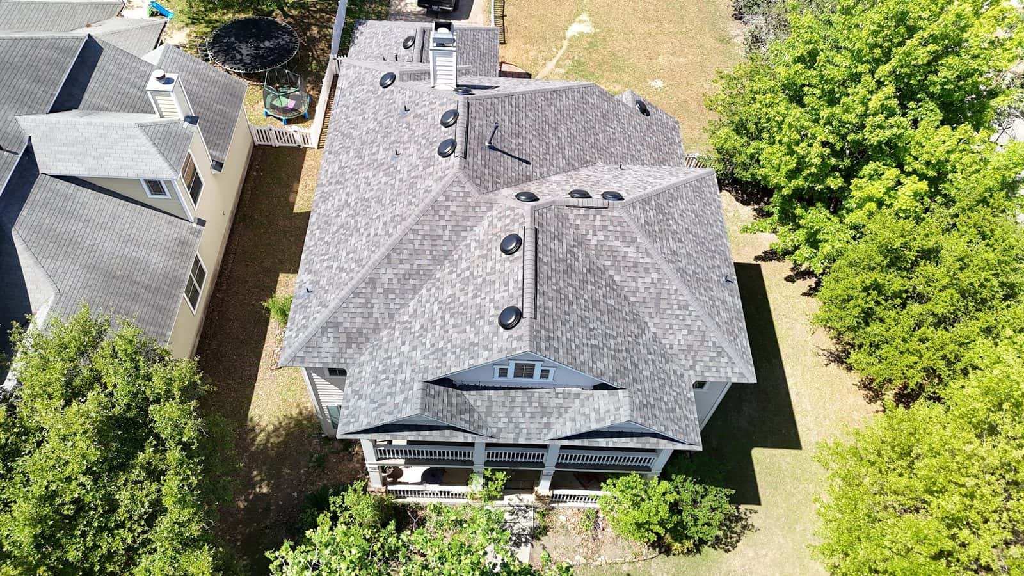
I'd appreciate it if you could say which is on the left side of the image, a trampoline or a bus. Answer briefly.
trampoline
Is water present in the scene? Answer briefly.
No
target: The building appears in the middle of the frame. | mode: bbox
[278,21,757,514]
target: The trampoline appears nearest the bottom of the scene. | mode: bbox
[264,68,310,123]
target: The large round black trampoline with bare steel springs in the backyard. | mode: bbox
[203,15,301,87]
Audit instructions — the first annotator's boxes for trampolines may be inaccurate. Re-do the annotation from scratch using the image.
[264,68,310,123]
[203,15,301,87]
